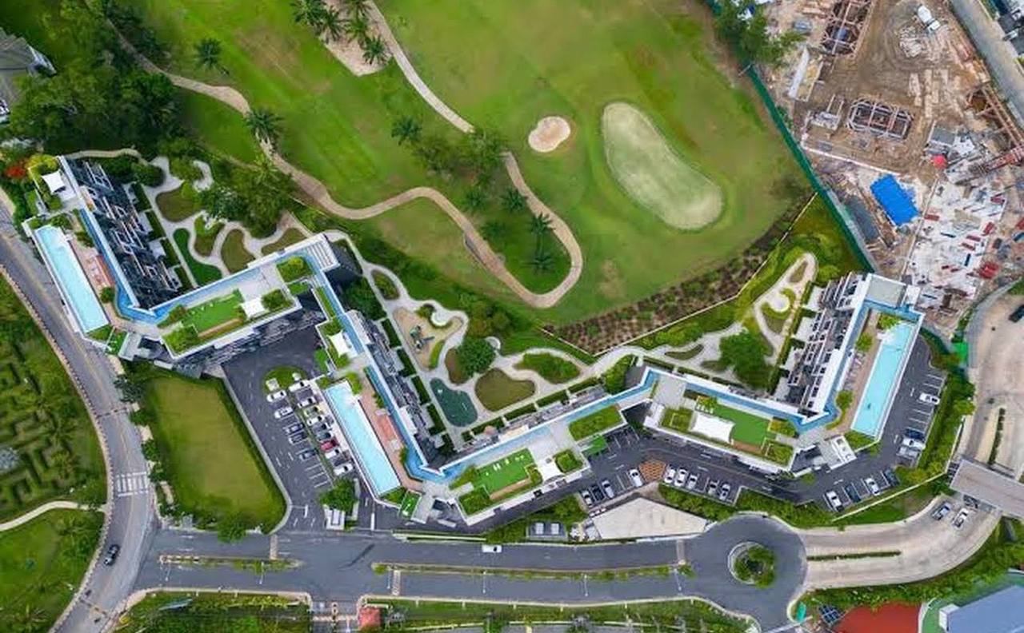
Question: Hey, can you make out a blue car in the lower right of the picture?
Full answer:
Yes, in the lower right of the picture there is a blue car.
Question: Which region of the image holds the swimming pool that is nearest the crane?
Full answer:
The swimming pool that is nearest the crane is in the right part of the image.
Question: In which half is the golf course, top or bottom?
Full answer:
The top half of the photo is where the golf course is.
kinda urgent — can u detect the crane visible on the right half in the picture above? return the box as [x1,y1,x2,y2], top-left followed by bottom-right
[958,142,1024,184]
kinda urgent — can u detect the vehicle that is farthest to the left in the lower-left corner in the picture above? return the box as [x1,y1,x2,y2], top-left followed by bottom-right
[102,543,120,566]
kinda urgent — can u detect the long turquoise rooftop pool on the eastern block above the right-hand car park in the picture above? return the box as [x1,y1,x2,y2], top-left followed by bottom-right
[848,320,922,438]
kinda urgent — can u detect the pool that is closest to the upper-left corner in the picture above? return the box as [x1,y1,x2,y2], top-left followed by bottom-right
[31,221,113,334]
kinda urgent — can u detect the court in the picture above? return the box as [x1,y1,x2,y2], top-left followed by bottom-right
[830,589,979,633]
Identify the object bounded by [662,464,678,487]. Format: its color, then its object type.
white car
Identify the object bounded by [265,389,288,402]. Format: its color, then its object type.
white vehicle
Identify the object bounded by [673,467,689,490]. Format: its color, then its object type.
white car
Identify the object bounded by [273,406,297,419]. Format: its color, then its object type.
white vehicle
